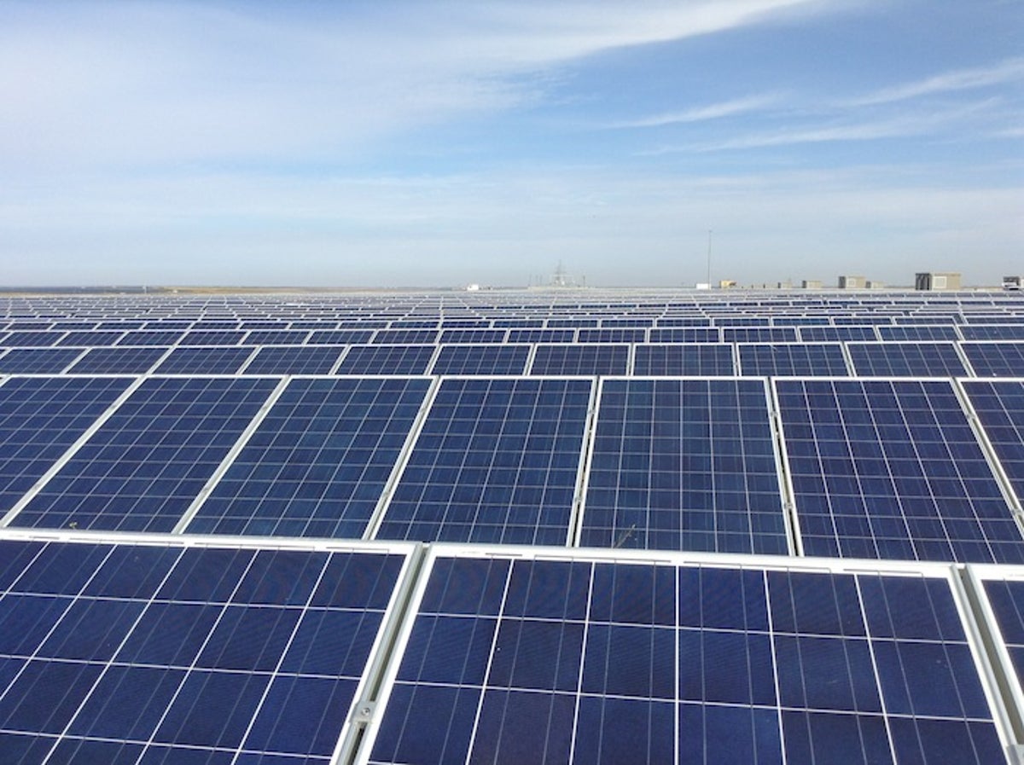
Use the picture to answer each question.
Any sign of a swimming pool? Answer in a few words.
No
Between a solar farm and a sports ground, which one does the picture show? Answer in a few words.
solar farm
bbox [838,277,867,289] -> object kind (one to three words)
building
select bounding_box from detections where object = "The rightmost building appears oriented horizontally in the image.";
[914,272,961,290]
